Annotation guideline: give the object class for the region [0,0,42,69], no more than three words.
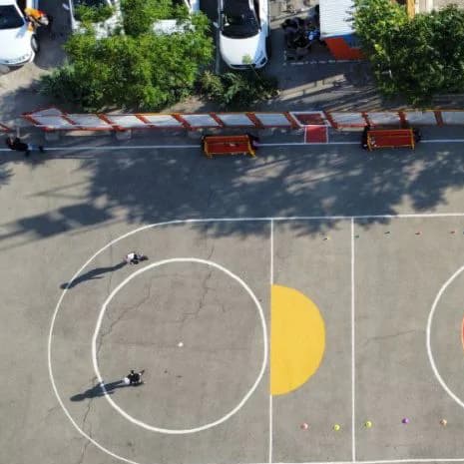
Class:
car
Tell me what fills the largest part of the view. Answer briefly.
paved ground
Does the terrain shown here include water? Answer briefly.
No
